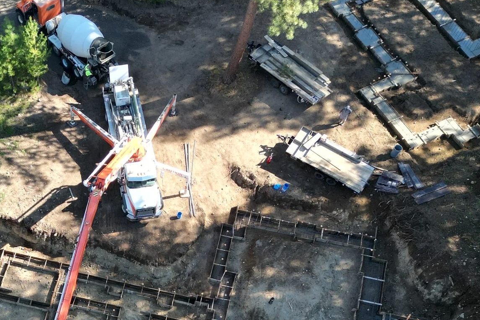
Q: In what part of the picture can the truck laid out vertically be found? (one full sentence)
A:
The truck laid out vertically appears toward the left of the photo.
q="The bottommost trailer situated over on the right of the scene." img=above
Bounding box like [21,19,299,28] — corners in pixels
[275,128,377,195]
